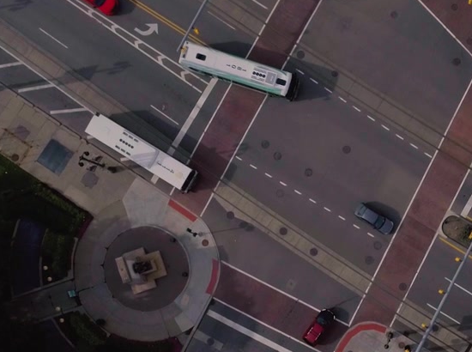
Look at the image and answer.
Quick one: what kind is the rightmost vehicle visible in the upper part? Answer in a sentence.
I'd say the rightmost vehicle visible in the upper part is a bus.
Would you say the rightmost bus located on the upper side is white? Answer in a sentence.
Yes, the rightmost bus located on the upper side is white.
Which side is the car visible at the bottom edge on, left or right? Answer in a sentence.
The car visible at the bottom edge appears in the right half of the scene.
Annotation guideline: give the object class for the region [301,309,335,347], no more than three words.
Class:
car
